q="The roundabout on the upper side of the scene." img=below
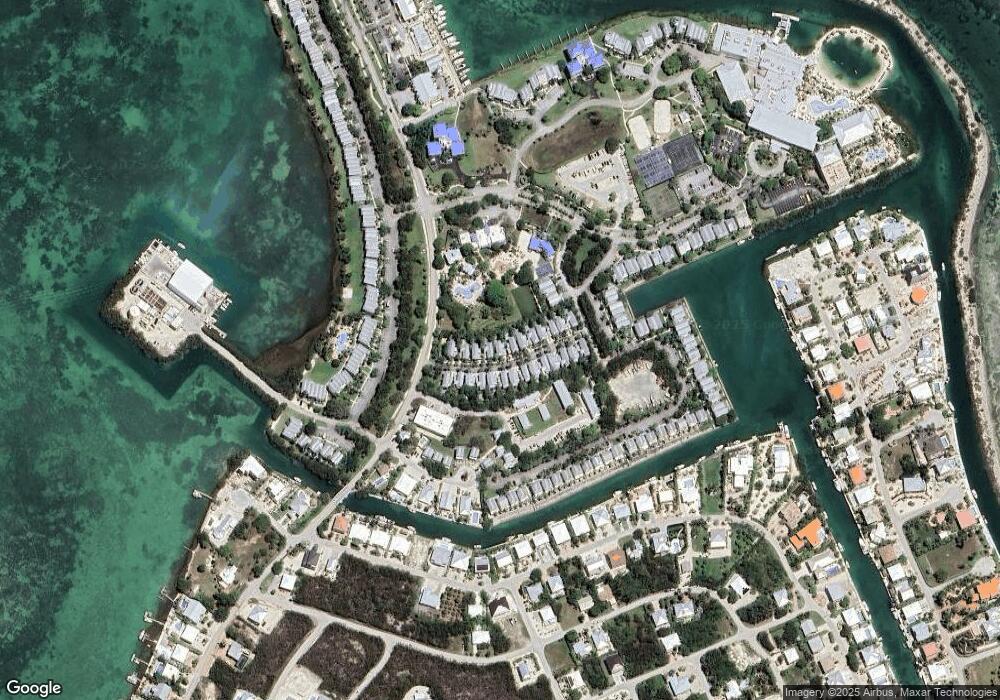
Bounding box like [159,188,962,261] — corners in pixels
[750,142,785,177]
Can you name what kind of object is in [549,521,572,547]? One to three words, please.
house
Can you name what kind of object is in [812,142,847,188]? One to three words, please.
building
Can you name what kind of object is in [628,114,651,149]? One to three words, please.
sports court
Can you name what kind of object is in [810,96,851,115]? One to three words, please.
swimming pool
